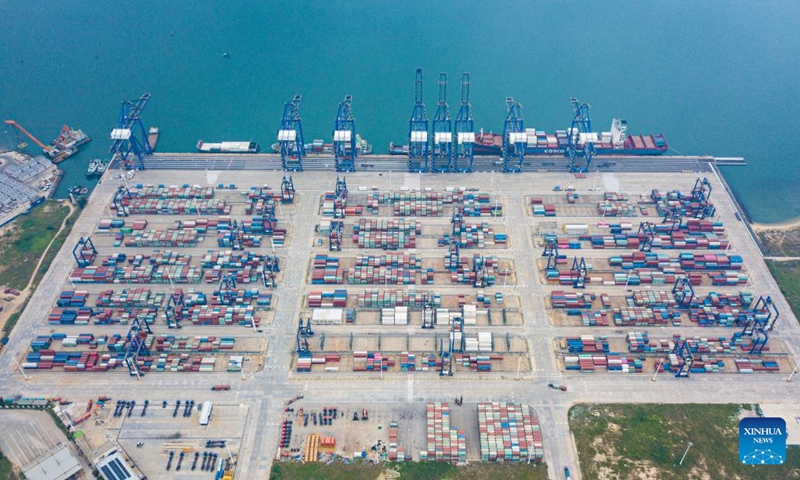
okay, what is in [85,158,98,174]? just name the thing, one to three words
boat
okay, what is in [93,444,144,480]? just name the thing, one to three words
building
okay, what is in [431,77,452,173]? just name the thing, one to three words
container crane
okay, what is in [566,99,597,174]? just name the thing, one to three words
container crane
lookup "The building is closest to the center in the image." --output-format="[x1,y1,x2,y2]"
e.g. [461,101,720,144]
[312,303,343,324]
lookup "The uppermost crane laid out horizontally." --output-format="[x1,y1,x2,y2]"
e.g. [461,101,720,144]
[5,121,89,161]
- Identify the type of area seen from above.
port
